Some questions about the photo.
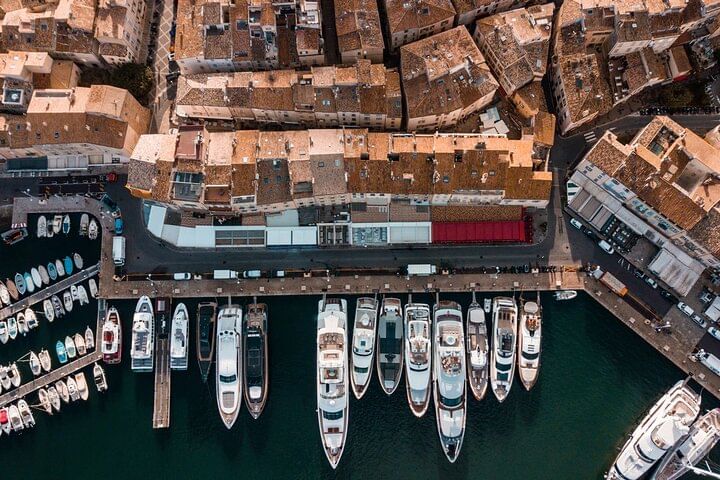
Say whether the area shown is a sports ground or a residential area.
residential area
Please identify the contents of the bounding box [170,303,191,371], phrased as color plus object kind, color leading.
white ship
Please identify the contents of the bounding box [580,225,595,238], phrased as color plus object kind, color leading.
black vehicle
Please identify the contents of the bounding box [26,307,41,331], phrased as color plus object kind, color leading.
white boat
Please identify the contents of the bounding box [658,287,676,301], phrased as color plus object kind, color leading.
black car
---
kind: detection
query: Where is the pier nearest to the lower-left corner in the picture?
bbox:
[0,353,103,407]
